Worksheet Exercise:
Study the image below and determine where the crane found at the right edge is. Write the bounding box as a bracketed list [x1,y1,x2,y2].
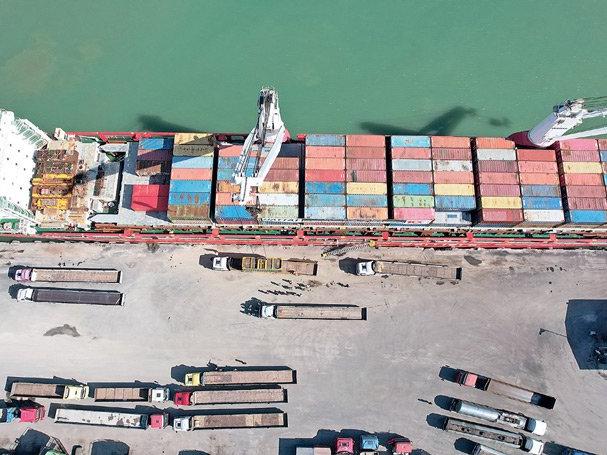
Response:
[506,91,607,150]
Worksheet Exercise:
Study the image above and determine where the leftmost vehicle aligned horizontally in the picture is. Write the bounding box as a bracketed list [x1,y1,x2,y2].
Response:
[0,403,53,423]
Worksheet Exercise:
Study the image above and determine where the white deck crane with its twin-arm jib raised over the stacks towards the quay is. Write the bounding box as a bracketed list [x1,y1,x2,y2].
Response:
[230,86,291,212]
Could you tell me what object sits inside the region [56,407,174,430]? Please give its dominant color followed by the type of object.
white truck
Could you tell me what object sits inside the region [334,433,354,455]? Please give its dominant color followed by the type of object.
pink vehicle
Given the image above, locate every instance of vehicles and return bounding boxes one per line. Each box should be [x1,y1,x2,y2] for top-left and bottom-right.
[392,436,414,455]
[56,407,174,430]
[452,369,560,411]
[174,388,288,406]
[11,267,123,284]
[314,444,330,455]
[355,261,462,280]
[185,369,296,387]
[91,386,174,403]
[587,343,607,363]
[445,395,547,435]
[14,288,124,305]
[0,403,53,423]
[261,303,368,319]
[334,433,354,455]
[297,443,314,455]
[360,431,380,455]
[442,412,544,454]
[213,257,317,274]
[174,412,287,432]
[11,382,101,401]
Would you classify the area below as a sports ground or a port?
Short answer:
port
